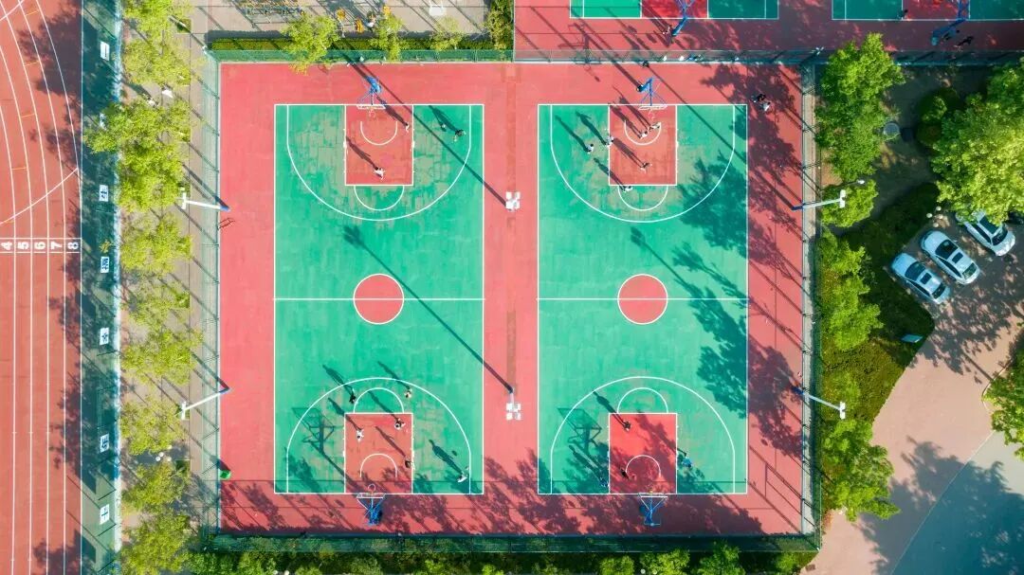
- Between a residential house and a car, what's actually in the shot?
car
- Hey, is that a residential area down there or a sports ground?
sports ground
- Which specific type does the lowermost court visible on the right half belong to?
basketball court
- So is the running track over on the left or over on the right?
left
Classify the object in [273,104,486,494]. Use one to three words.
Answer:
basketball court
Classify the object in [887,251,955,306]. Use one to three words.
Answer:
car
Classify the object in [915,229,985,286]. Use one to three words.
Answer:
car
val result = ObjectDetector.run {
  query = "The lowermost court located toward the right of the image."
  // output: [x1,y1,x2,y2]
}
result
[536,104,749,494]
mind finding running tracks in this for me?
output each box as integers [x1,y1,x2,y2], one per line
[0,0,82,575]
